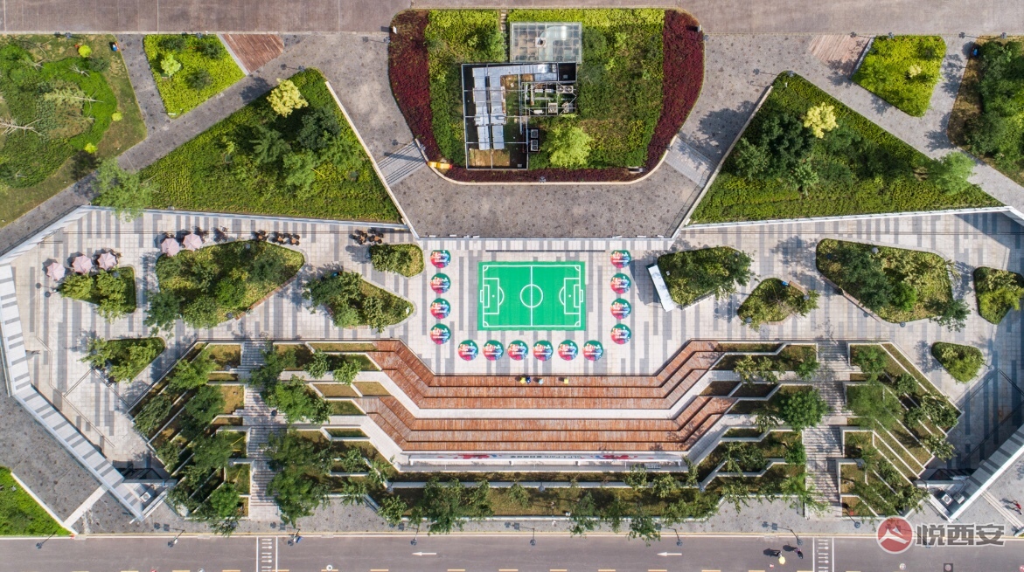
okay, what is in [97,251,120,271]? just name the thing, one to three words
umbrella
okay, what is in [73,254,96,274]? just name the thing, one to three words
umbrella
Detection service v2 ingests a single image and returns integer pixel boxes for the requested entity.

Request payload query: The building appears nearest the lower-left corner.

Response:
[113,463,180,518]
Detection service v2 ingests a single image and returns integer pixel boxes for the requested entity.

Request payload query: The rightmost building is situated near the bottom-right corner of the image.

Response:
[910,464,978,521]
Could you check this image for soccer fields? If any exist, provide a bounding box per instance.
[478,261,585,331]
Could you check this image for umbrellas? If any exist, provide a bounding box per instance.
[46,262,70,281]
[182,231,203,251]
[160,237,181,256]
[97,251,120,271]
[73,254,96,274]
